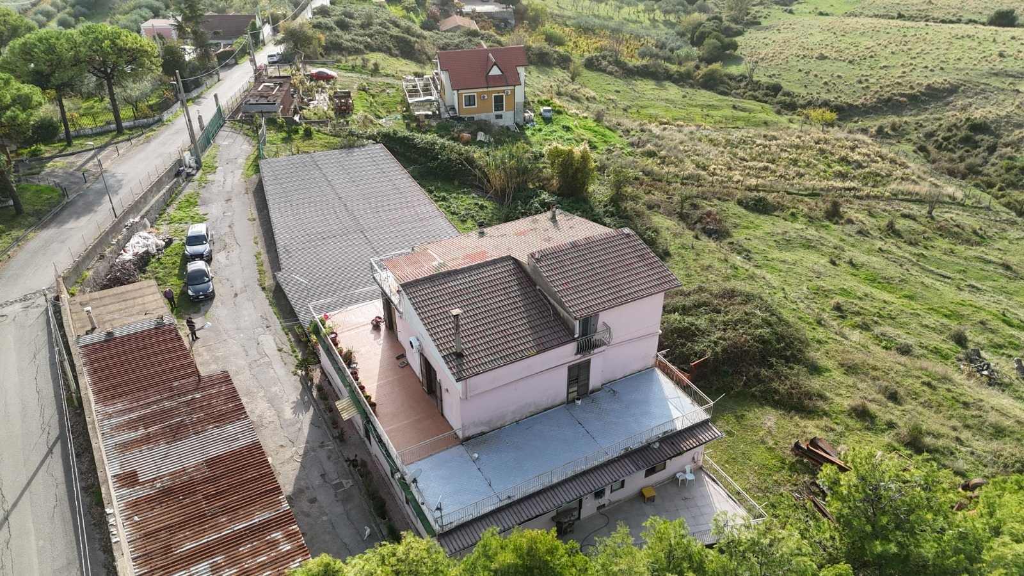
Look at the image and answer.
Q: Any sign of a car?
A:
Yes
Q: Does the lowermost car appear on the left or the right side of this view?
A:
left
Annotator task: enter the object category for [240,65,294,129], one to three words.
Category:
building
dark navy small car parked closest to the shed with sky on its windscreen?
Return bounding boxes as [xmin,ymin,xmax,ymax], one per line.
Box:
[183,257,218,301]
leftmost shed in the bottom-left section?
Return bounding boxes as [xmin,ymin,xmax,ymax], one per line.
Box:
[70,279,315,576]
